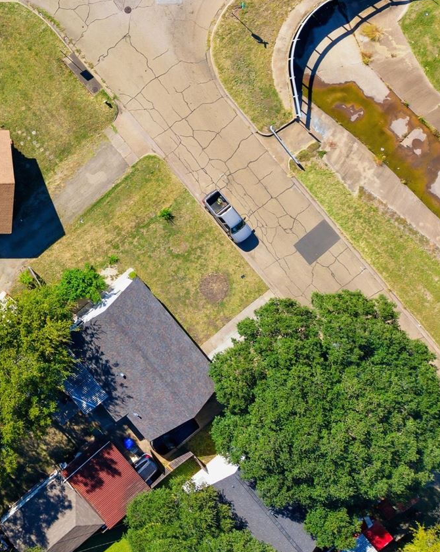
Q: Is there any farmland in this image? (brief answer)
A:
No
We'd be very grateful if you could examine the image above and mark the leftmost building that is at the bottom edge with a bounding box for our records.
[0,471,104,552]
